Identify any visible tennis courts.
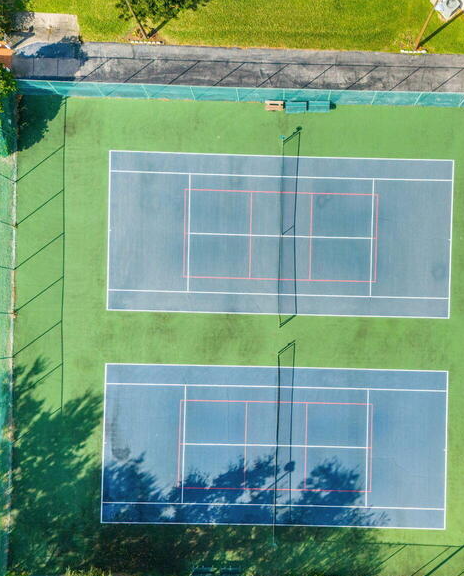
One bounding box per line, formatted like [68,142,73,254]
[107,151,453,318]
[102,364,447,528]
